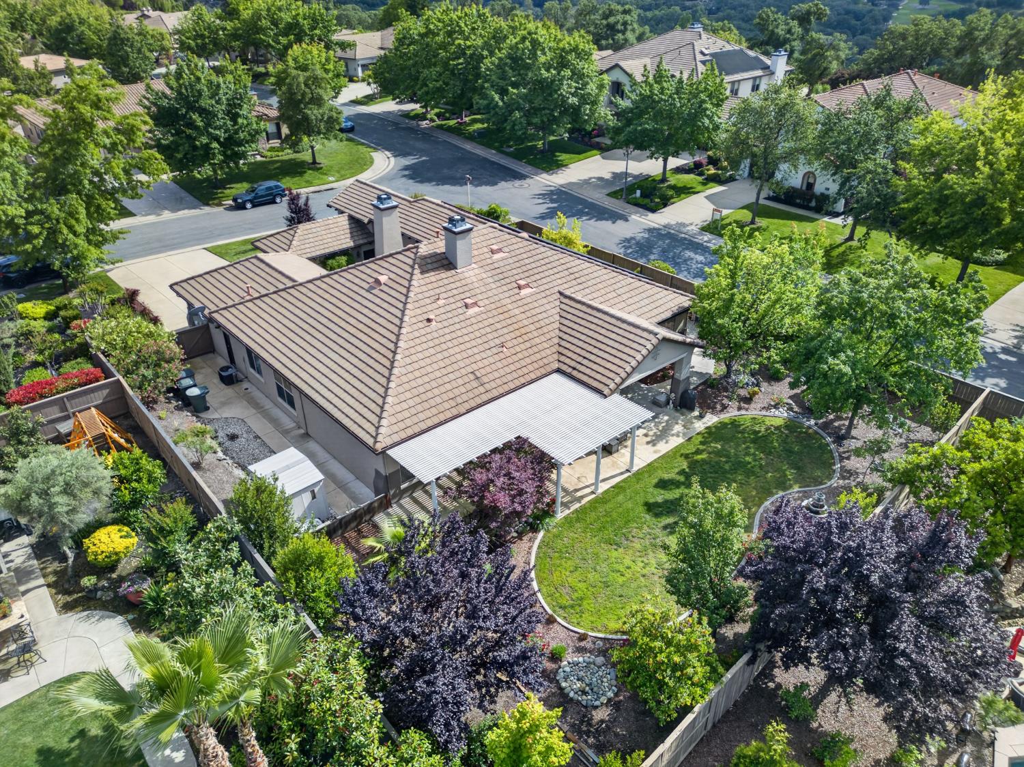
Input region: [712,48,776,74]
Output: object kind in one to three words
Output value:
solar panel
